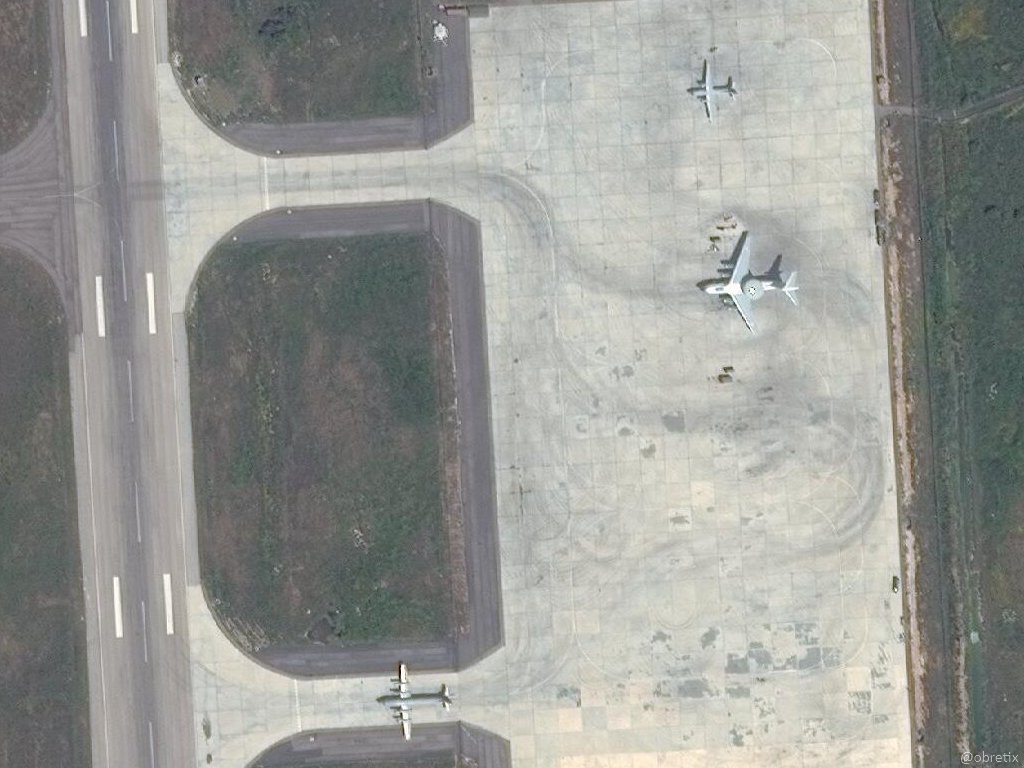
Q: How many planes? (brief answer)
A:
3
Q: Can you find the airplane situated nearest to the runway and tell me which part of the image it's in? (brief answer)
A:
bottom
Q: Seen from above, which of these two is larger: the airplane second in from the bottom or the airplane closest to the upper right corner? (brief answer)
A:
the airplane second in from the bottom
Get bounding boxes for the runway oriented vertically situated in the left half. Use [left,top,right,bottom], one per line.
[63,0,198,768]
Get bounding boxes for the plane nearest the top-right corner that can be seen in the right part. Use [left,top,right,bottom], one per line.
[691,63,739,121]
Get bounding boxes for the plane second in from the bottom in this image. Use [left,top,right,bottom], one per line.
[703,237,800,335]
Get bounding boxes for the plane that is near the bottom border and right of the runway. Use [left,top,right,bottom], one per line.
[380,665,458,739]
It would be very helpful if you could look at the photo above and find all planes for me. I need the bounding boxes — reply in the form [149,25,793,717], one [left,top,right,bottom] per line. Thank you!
[380,665,458,739]
[691,63,739,121]
[703,237,800,335]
